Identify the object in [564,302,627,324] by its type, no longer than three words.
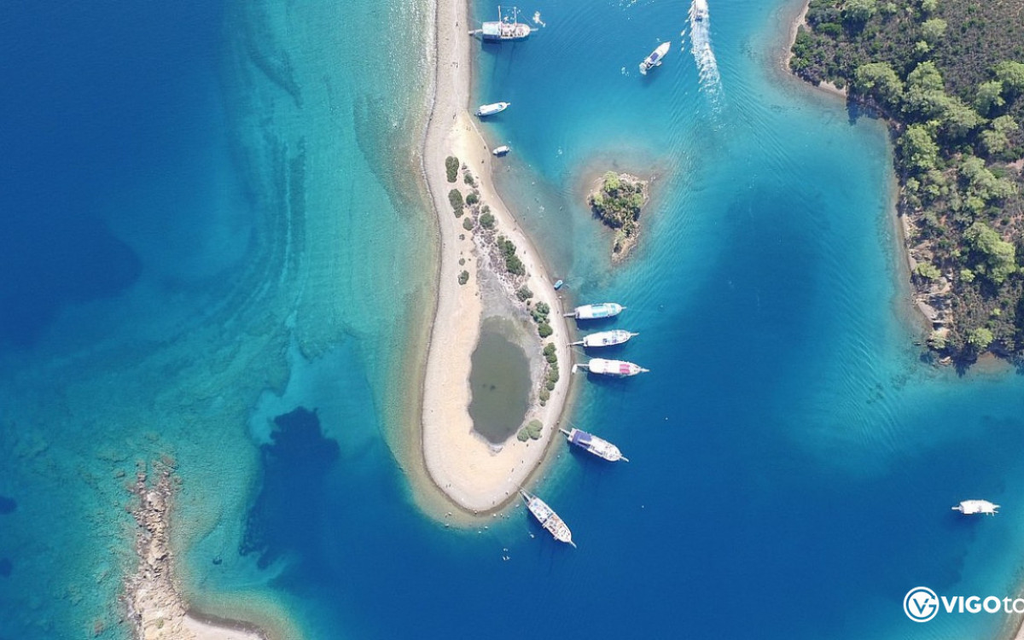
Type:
boat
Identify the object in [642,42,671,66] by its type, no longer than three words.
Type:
boat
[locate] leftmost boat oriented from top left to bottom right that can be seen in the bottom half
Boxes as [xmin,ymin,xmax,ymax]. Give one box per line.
[518,487,577,548]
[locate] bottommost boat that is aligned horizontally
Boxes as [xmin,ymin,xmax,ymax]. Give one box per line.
[952,501,1000,516]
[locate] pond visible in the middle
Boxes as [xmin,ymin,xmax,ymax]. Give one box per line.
[471,330,529,440]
